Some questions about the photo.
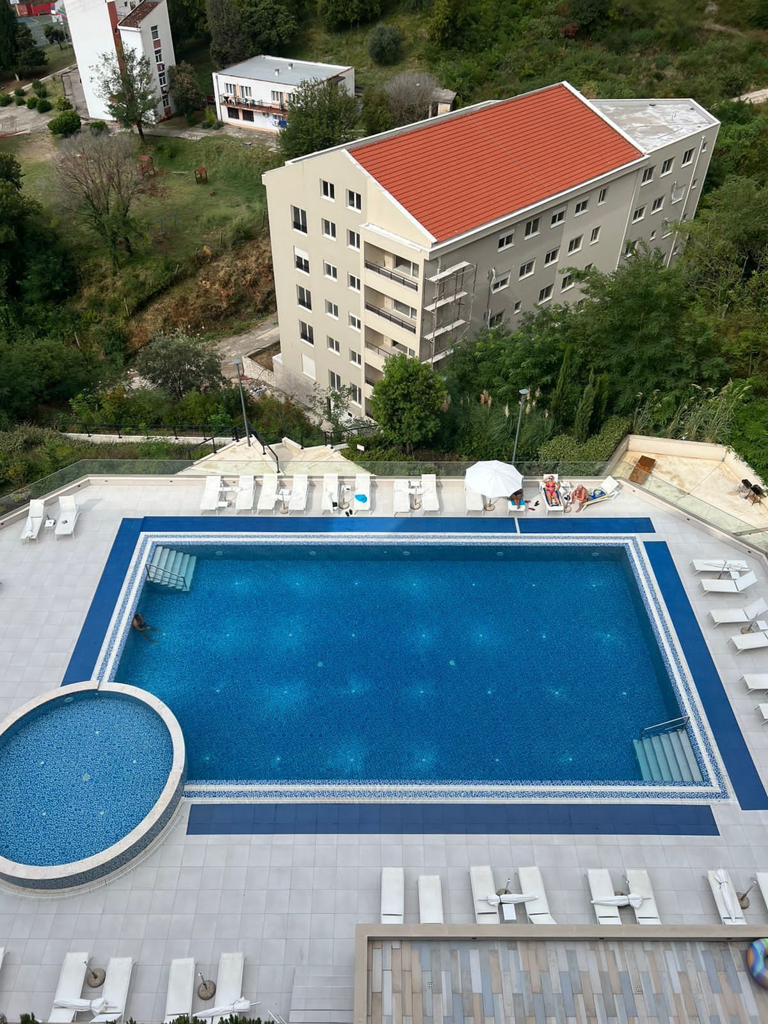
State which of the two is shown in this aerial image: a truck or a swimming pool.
swimming pool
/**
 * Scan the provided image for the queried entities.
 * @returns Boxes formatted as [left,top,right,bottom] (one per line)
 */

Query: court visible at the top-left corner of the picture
[13,13,71,47]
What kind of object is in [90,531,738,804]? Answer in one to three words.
swimming pool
